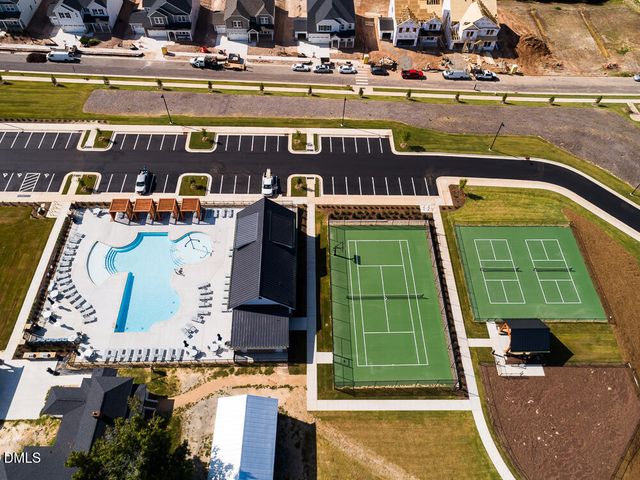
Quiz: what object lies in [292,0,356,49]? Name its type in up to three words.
house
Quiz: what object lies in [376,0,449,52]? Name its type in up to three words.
house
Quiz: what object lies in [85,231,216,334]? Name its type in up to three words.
swimming pool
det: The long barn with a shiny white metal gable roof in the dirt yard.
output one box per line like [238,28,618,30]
[208,396,277,480]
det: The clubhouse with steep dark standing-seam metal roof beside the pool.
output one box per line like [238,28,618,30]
[228,196,296,361]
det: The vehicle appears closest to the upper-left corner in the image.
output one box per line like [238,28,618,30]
[46,48,79,61]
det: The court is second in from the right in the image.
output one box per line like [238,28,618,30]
[454,226,541,319]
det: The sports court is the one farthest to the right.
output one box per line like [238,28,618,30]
[511,226,608,319]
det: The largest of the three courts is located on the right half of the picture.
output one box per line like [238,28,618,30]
[328,224,458,388]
